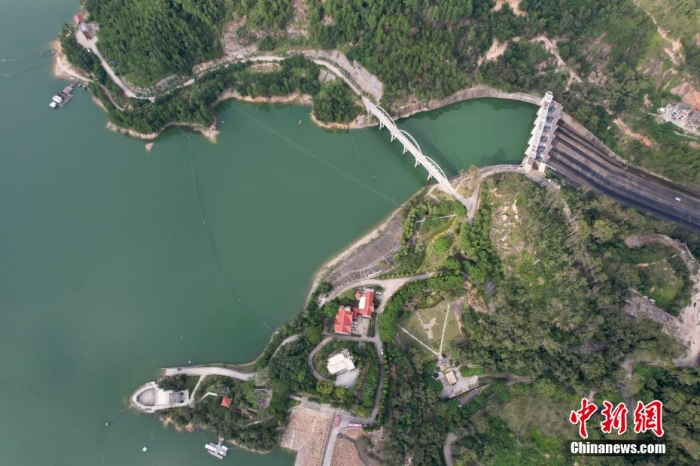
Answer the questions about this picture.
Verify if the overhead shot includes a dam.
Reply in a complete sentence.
Yes, there's a dam down there.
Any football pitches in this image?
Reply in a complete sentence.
No, no football pitch can be seen from above.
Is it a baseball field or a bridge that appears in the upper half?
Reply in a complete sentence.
It is a bridge that can be seen in the upper half.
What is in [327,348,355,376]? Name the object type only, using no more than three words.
house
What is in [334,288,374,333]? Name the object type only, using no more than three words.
house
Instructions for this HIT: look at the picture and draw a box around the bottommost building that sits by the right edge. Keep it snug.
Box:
[626,290,685,332]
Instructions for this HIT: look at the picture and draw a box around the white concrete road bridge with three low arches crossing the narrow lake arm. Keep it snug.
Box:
[359,94,468,204]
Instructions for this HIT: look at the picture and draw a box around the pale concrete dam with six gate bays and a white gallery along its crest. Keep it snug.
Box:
[520,84,564,167]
